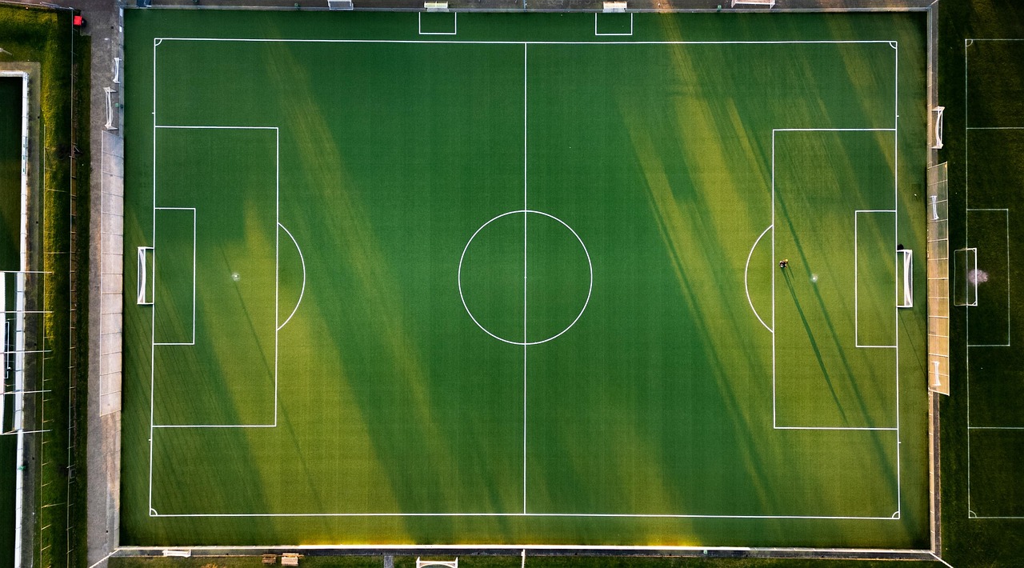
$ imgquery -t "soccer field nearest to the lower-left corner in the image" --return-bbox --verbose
[0,77,23,568]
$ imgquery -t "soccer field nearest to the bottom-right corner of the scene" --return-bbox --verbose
[952,16,1024,552]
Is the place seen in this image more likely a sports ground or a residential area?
sports ground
